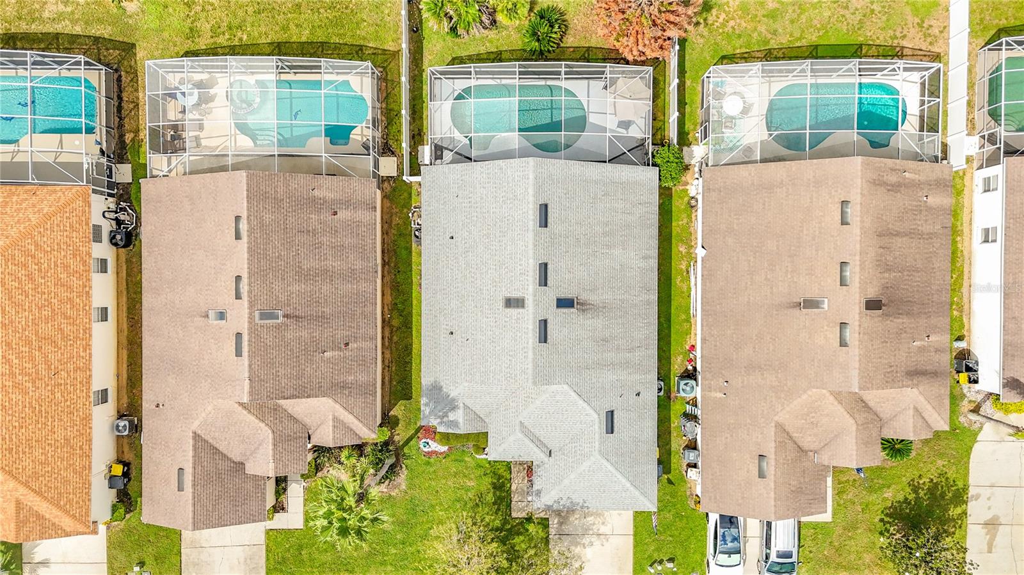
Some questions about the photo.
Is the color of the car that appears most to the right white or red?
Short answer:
white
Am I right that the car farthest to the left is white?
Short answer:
Yes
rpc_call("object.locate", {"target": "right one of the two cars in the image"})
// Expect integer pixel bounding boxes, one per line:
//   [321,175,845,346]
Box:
[757,518,804,575]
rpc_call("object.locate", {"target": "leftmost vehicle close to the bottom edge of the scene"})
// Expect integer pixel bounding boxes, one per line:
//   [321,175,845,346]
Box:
[704,513,748,575]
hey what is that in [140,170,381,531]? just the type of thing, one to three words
house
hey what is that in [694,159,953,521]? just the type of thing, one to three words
house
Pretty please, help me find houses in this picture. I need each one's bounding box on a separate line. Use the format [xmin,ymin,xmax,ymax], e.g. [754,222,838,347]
[694,159,953,521]
[140,170,381,531]
[420,158,659,512]
[0,185,117,541]
[970,156,1024,403]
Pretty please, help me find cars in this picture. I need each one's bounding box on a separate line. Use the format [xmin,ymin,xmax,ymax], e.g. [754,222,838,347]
[704,513,748,575]
[757,518,804,575]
